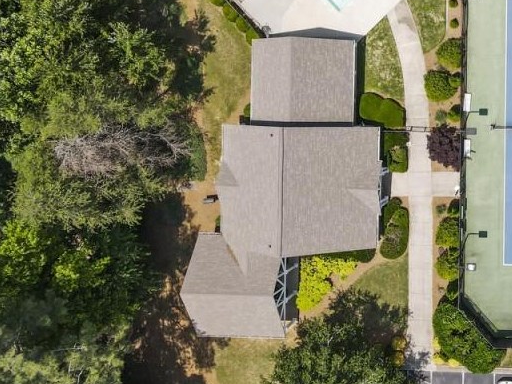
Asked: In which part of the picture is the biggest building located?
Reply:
center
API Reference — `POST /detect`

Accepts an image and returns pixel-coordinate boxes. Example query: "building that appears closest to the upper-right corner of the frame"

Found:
[251,37,358,122]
